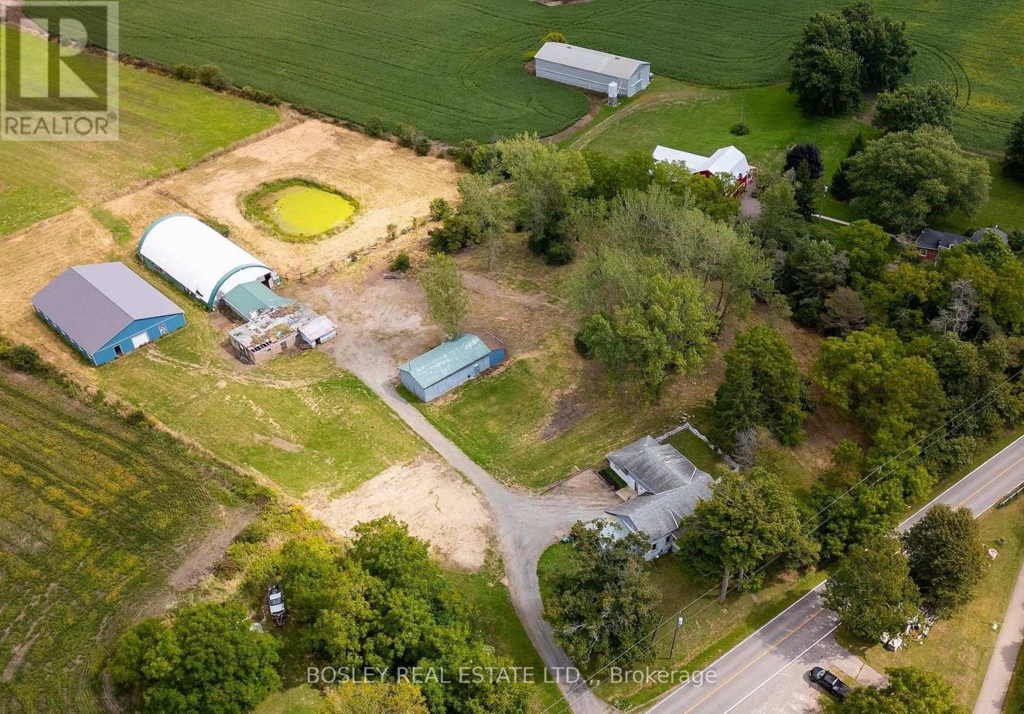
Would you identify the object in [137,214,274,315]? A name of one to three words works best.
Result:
barn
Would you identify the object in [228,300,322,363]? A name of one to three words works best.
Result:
building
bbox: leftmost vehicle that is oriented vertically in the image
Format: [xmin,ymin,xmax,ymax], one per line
[268,584,285,623]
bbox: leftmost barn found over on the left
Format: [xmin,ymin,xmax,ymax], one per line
[29,262,188,368]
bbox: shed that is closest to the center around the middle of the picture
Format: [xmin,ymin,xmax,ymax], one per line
[397,333,506,404]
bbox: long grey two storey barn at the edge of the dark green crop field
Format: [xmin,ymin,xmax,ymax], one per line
[534,42,653,98]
